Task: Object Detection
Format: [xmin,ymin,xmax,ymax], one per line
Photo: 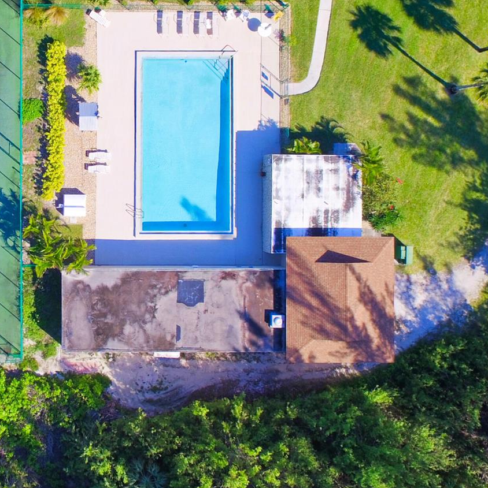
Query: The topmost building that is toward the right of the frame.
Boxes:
[264,155,362,253]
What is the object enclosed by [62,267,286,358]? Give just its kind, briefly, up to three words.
building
